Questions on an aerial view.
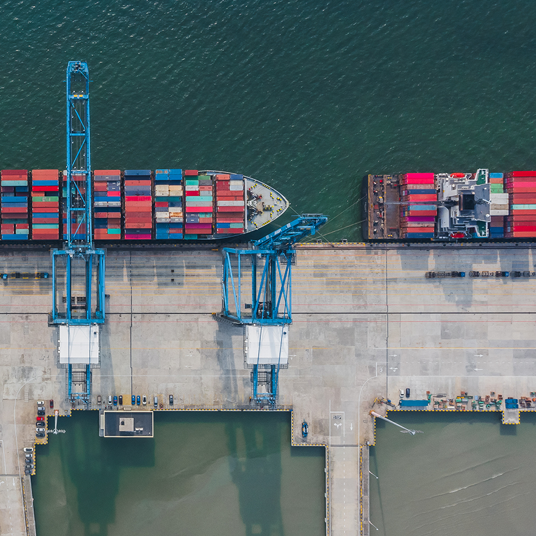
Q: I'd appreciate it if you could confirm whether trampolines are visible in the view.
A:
No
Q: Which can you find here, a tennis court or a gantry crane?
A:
gantry crane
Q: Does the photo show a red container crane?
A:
No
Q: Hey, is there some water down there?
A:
Yes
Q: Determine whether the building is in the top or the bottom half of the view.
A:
bottom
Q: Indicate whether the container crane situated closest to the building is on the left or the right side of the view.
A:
left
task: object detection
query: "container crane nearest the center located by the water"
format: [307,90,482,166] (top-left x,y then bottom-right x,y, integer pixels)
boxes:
[215,216,328,405]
